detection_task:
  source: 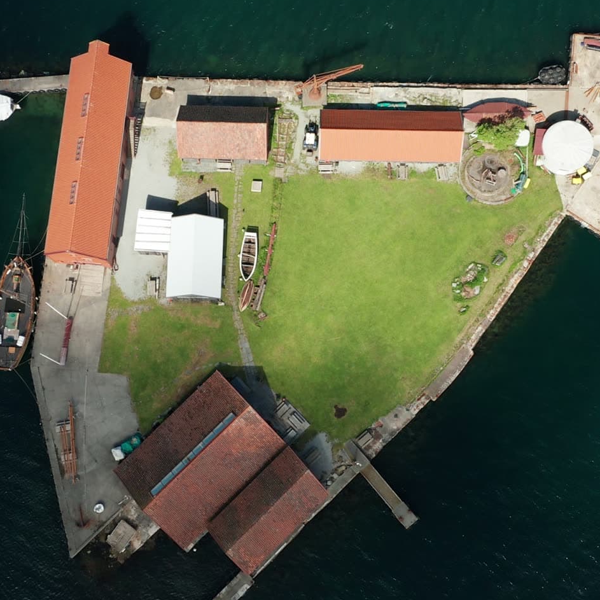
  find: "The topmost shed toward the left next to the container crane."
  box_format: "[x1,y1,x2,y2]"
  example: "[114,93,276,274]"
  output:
[177,105,268,168]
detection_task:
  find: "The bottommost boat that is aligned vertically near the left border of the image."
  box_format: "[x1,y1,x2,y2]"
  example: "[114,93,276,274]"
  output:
[0,196,38,373]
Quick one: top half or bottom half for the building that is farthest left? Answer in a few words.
top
